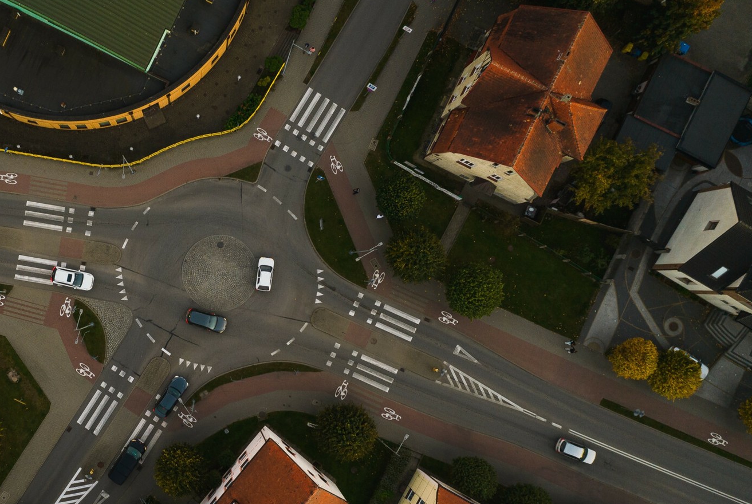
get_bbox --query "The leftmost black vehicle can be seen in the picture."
[108,436,145,488]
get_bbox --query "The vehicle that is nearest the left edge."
[50,266,96,289]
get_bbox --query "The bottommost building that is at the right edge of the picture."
[652,182,752,329]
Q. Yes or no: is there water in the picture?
No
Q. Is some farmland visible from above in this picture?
No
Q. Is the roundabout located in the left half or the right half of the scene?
left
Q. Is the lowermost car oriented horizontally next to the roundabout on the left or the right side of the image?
left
